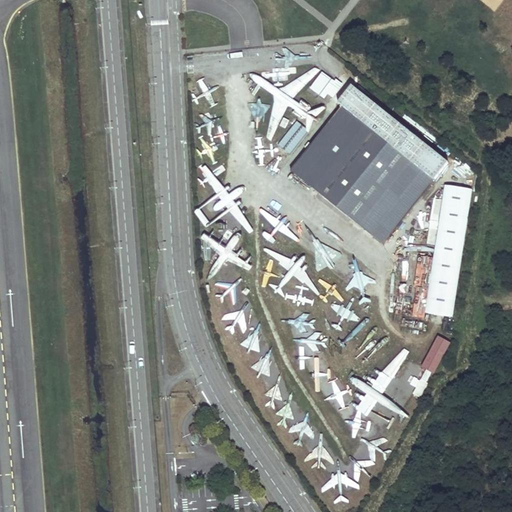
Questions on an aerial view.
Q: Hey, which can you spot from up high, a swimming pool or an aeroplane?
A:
aeroplane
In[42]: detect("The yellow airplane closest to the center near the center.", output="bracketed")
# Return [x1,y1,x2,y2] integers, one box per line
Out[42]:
[262,258,280,287]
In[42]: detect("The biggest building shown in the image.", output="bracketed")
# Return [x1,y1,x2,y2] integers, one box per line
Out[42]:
[290,86,452,244]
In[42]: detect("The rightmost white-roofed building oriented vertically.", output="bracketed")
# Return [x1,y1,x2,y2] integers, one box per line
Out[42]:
[426,183,472,317]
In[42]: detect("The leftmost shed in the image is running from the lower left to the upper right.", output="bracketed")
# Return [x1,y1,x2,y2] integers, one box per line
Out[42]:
[278,121,306,152]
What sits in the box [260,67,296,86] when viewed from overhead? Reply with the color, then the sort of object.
white airplane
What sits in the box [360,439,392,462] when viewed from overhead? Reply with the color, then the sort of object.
white airplane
